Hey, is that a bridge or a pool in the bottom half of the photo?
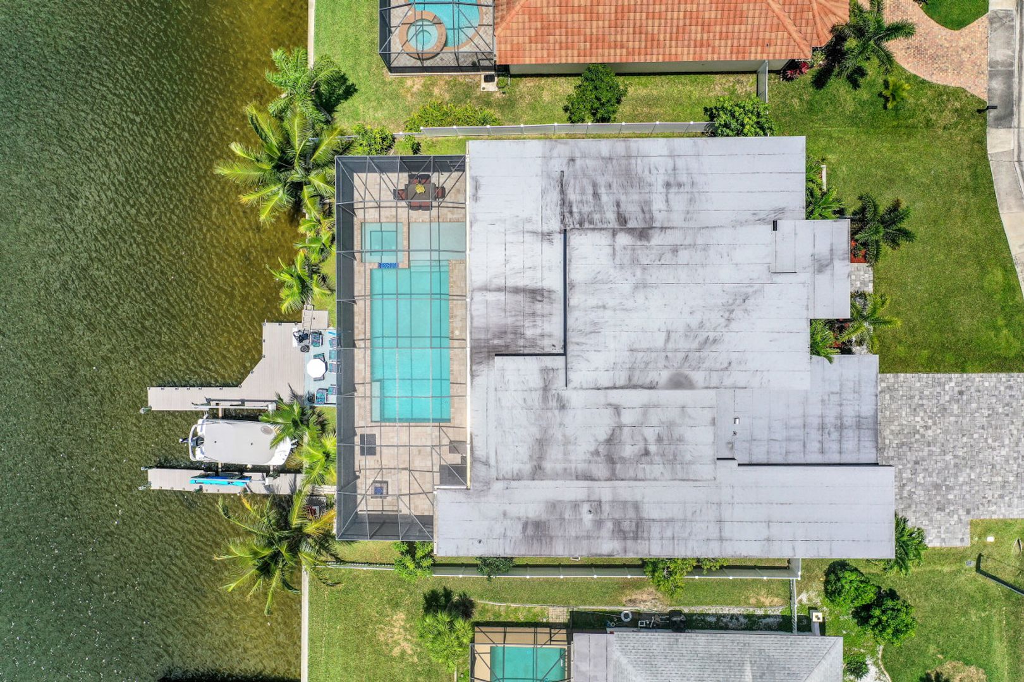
pool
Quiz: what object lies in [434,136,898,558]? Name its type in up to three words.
house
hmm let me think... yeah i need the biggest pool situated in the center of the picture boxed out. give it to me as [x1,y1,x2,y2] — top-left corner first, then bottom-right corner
[354,216,466,430]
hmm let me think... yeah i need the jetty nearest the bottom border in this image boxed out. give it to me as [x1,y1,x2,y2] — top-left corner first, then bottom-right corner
[148,468,305,495]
